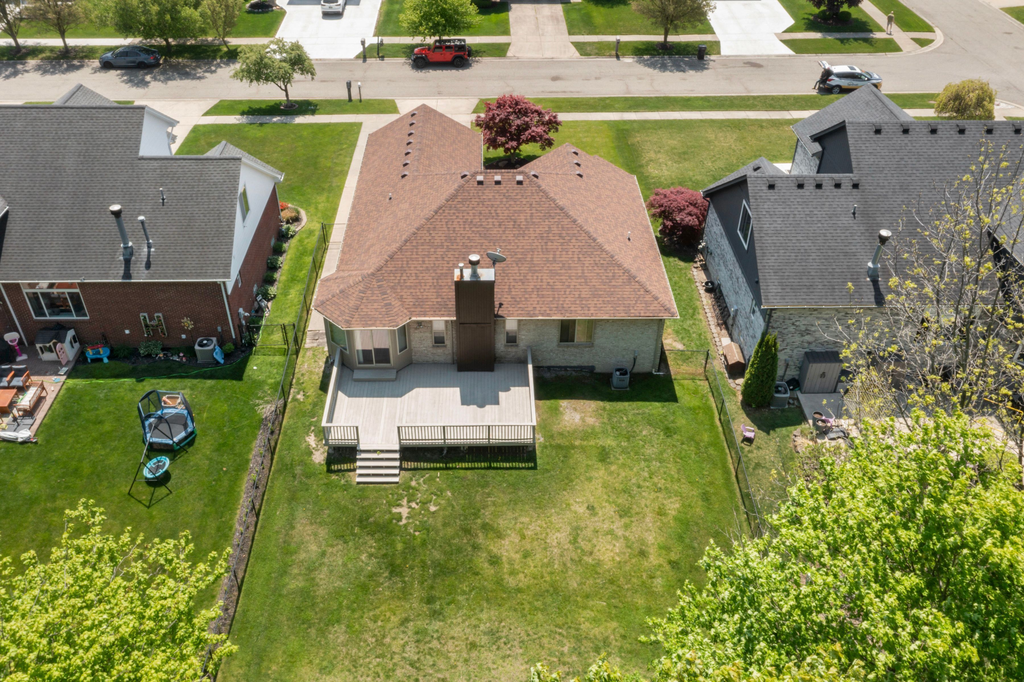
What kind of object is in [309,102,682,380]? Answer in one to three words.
house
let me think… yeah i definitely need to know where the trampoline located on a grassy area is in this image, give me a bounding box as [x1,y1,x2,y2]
[131,385,198,455]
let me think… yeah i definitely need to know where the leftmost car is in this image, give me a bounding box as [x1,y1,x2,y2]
[101,41,165,67]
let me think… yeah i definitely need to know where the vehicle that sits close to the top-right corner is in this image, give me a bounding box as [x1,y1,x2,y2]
[821,60,890,94]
